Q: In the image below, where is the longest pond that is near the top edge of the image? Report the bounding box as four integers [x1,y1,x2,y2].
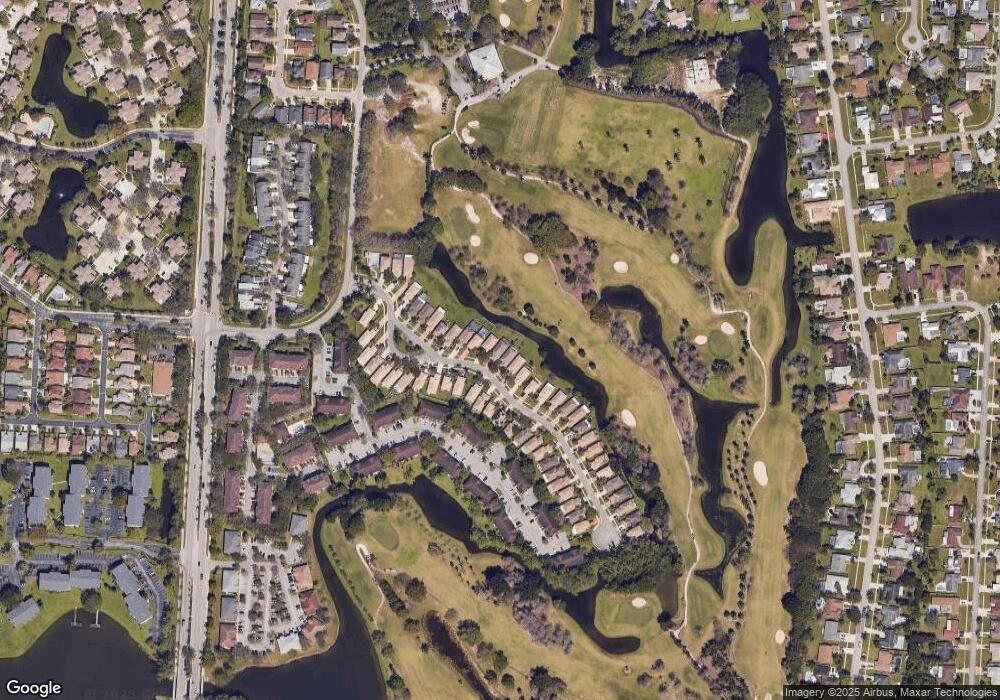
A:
[32,33,109,139]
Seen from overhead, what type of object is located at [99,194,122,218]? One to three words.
house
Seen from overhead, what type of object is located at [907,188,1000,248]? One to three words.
pond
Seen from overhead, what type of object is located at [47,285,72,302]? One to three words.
swimming pool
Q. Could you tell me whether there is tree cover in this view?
Yes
